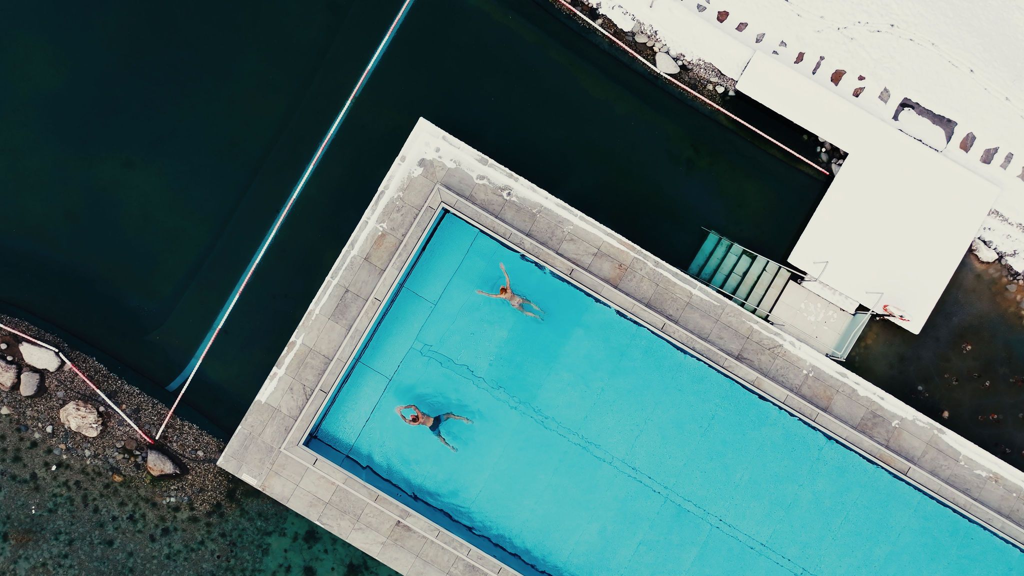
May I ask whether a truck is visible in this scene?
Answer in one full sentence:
No, there is no truck in the image.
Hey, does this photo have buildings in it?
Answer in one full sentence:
No, the scene contains no building.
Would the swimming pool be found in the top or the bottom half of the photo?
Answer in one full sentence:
It is in the bottom half that the swimming pool appears.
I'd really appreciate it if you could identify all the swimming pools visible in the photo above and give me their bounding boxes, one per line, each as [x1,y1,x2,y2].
[305,207,1024,576]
